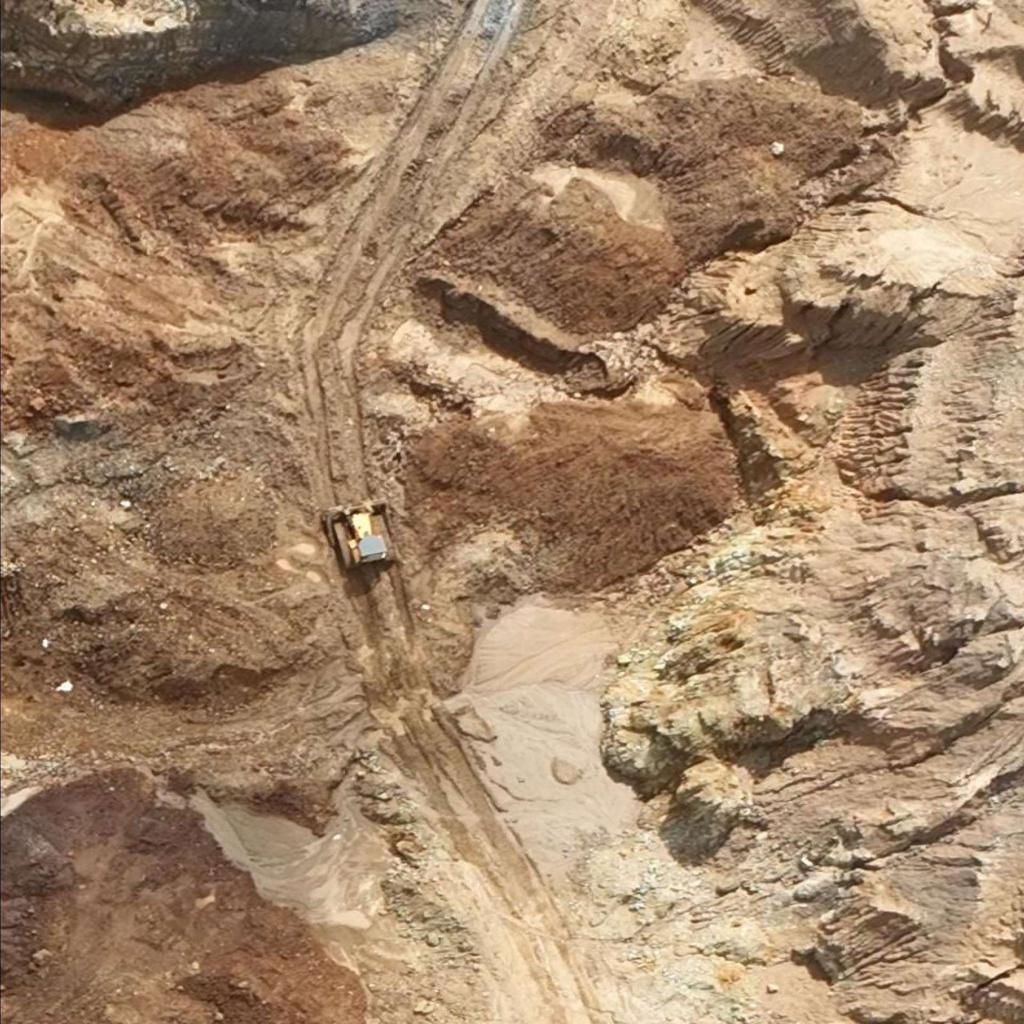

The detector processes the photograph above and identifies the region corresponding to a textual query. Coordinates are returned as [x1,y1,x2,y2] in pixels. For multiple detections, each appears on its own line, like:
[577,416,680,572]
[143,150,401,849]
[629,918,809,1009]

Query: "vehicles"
[331,498,394,566]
